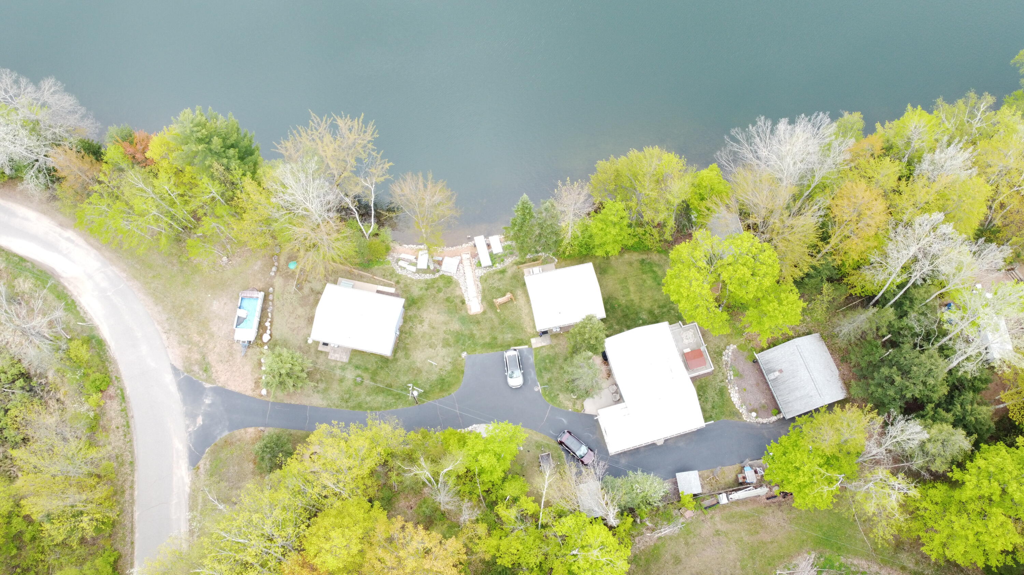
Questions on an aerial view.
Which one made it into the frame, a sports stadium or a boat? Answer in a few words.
boat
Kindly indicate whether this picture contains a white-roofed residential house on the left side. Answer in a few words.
Yes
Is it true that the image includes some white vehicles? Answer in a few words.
Yes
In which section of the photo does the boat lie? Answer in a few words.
left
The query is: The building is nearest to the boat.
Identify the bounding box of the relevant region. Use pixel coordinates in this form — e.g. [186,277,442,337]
[308,283,407,359]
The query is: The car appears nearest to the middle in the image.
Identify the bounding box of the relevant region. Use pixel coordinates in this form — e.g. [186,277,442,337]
[503,348,524,390]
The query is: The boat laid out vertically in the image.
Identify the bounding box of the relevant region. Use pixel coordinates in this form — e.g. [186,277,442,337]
[232,286,264,344]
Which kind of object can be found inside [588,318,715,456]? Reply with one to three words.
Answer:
house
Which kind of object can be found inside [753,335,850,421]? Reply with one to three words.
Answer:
building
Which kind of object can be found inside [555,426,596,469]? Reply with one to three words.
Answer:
car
